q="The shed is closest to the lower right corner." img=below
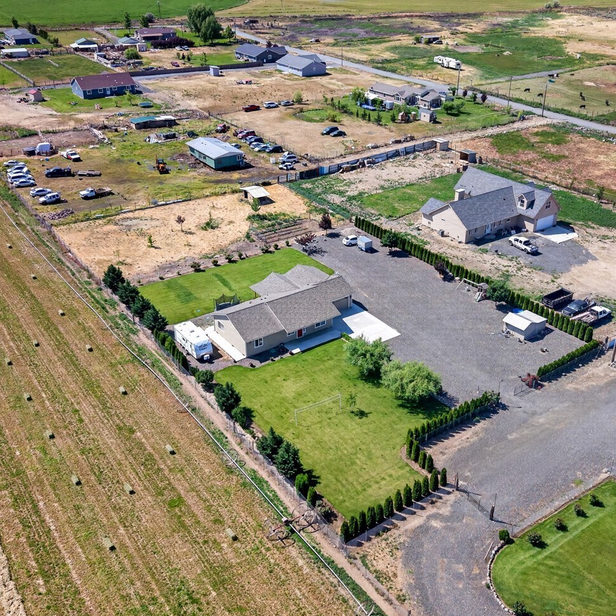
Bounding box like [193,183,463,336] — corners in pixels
[504,309,551,339]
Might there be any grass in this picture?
Yes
